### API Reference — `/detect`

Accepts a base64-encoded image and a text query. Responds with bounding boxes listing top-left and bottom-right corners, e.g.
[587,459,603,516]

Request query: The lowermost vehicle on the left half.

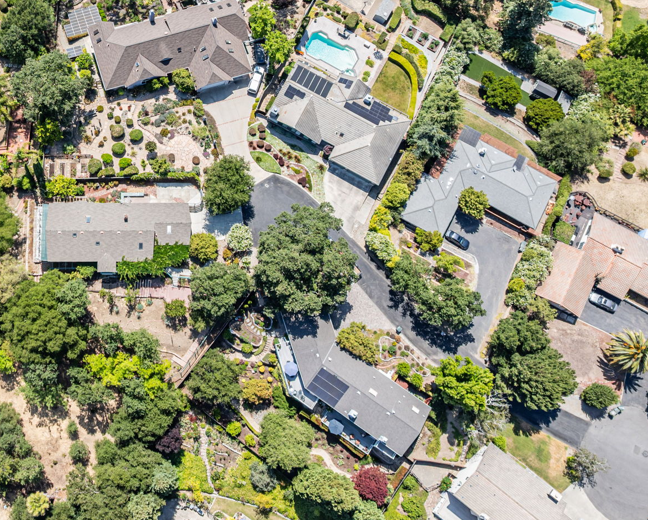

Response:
[247,65,265,93]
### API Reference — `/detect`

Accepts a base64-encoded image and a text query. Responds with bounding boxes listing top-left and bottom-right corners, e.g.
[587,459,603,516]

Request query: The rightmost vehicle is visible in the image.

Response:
[590,292,620,313]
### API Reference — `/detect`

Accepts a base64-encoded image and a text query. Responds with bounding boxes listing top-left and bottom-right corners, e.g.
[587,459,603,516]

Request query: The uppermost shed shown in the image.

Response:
[372,0,395,23]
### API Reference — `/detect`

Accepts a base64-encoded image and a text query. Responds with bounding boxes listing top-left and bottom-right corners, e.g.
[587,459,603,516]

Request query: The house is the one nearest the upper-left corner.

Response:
[88,0,252,93]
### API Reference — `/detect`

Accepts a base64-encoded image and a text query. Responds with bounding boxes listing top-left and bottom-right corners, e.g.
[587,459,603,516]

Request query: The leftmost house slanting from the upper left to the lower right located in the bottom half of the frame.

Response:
[281,311,431,457]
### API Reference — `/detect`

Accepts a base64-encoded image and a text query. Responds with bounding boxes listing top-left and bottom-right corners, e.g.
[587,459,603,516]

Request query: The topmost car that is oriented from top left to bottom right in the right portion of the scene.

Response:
[446,229,472,250]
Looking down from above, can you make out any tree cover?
Yes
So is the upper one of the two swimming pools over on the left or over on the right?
right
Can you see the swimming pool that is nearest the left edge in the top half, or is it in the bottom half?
top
